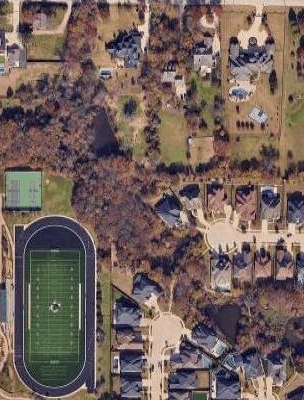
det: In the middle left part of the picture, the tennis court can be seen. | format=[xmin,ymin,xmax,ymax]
[5,172,42,211]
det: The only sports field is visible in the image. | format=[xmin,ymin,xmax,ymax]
[24,251,85,386]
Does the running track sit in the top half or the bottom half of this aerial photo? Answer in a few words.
bottom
